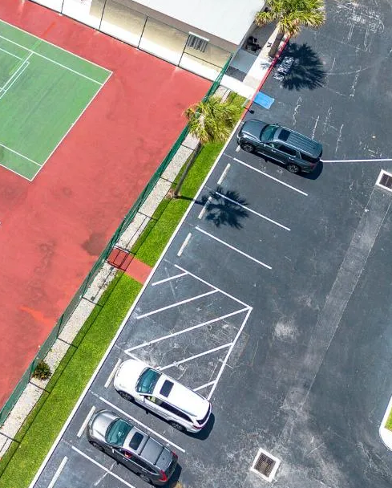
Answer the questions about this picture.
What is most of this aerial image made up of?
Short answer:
paved ground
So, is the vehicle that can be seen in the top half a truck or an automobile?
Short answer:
automobile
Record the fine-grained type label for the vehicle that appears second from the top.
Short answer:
automobile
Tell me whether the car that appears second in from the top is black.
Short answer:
No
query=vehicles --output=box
[116,361,214,437]
[239,120,326,174]
[85,411,179,488]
